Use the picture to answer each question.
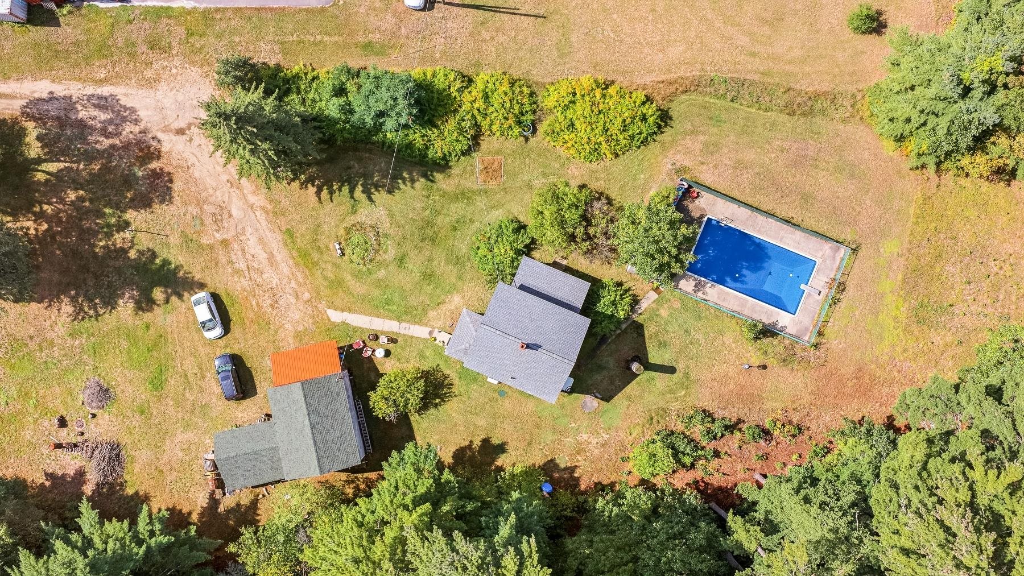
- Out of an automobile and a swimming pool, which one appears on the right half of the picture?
swimming pool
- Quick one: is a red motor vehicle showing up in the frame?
No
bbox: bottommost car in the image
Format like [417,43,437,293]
[217,351,248,400]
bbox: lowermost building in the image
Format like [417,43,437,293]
[215,341,367,490]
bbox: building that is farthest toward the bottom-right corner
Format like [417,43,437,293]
[444,255,591,401]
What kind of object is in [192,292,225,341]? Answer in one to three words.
car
